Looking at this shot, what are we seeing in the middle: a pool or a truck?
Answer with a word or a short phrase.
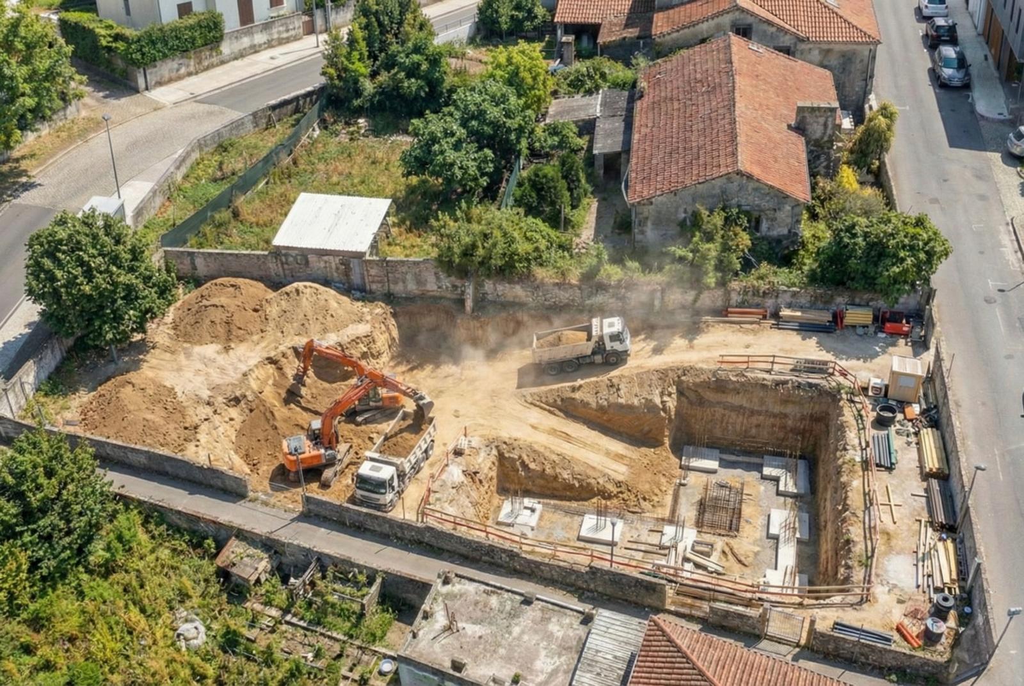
truck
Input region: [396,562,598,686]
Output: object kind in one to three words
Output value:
shed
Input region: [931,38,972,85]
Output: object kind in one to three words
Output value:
car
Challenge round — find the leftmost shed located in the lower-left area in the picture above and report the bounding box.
[217,540,270,597]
